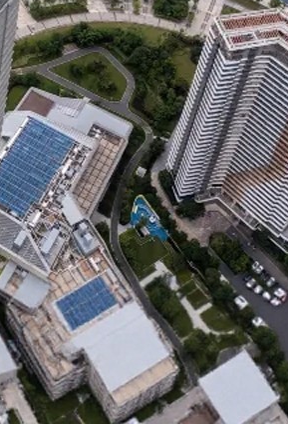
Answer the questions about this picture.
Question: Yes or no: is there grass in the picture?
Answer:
Yes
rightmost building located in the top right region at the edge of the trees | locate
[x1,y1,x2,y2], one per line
[167,2,288,224]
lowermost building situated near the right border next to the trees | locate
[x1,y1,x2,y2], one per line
[196,350,279,424]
